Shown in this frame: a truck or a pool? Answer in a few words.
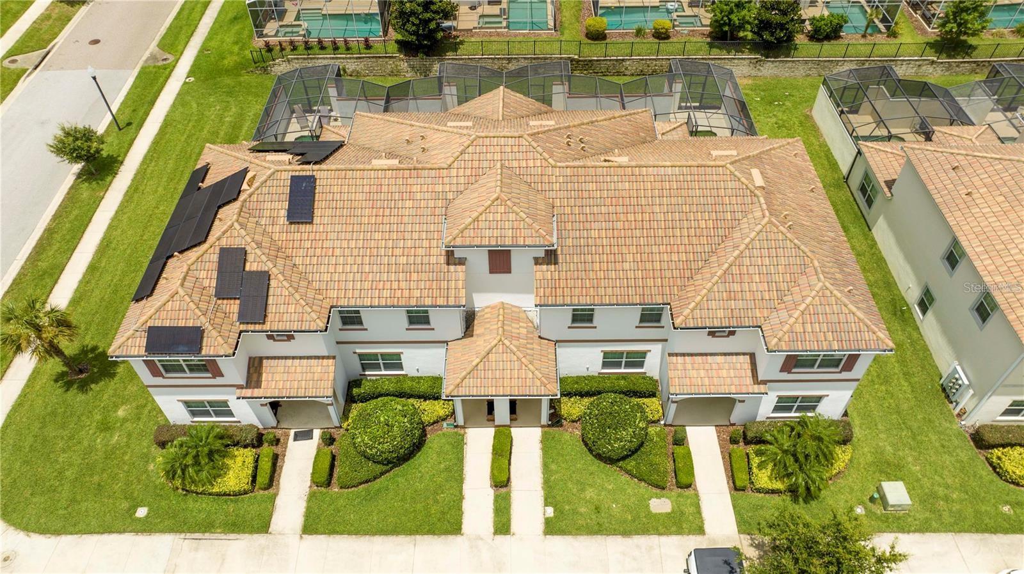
pool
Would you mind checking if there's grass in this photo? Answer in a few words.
Yes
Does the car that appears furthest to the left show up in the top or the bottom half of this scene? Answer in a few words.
bottom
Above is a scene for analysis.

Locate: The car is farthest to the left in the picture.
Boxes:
[685,548,746,574]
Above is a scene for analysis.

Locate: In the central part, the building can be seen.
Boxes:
[106,84,896,430]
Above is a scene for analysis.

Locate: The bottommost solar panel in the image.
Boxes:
[143,323,200,350]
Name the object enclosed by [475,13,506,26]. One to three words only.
swimming pool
